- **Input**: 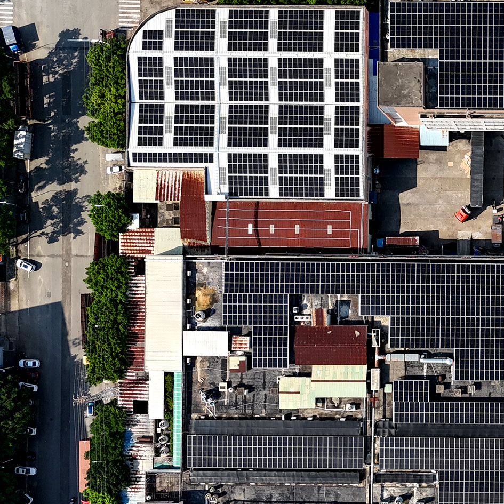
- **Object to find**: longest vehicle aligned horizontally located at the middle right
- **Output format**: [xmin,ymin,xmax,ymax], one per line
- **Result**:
[377,236,420,248]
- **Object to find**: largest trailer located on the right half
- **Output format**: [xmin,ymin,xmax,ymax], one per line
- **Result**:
[471,131,484,208]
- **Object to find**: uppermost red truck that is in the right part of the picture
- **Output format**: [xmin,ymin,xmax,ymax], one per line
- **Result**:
[452,202,477,225]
